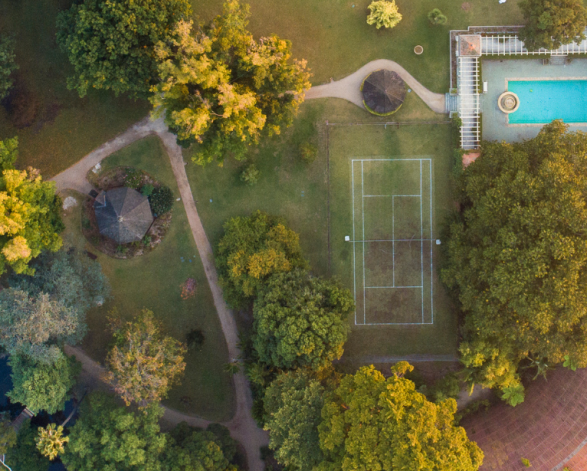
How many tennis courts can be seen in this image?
1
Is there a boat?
No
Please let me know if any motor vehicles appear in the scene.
No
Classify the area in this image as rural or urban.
rural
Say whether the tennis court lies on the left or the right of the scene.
right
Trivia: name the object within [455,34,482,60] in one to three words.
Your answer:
building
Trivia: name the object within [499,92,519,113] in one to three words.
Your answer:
fountain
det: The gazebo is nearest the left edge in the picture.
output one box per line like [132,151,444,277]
[92,186,153,243]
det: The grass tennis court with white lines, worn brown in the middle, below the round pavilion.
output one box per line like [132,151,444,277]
[333,138,451,345]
